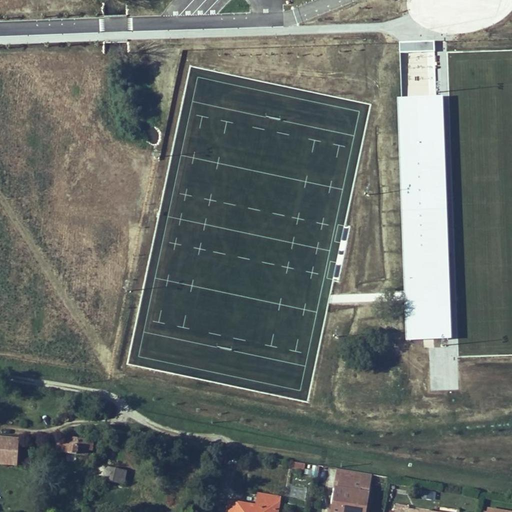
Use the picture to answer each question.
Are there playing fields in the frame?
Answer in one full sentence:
Yes, a playing field can be made out from above.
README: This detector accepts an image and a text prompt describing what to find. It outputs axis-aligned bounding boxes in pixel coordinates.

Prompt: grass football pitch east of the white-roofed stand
[448,48,512,358]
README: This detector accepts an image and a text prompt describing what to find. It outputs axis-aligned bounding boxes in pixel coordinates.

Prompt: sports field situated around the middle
[127,66,372,402]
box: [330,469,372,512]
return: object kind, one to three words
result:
house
